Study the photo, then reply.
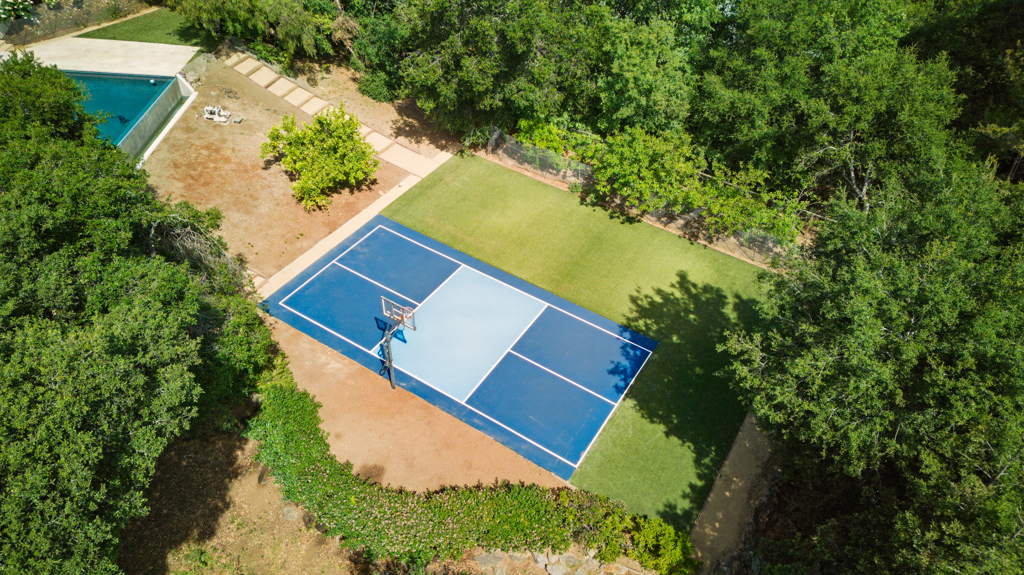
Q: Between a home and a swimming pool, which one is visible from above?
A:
swimming pool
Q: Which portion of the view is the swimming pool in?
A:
top left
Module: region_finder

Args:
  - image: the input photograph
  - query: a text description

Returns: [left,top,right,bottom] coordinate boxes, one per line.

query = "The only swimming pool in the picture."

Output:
[1,64,196,182]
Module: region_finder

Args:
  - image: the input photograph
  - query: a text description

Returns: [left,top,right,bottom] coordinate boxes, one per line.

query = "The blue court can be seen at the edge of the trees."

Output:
[260,215,658,482]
